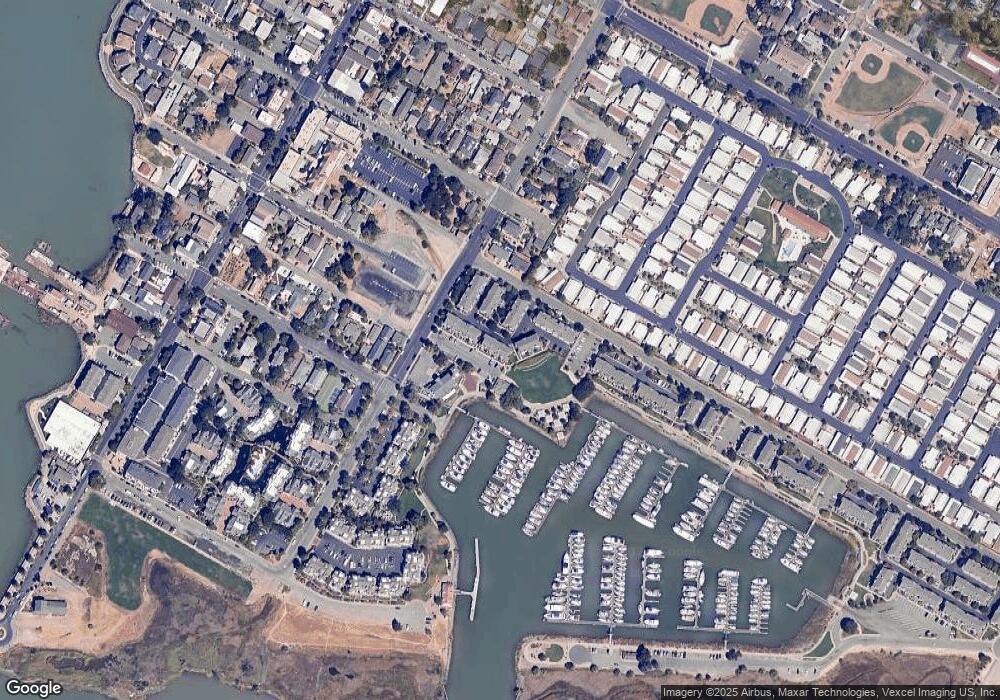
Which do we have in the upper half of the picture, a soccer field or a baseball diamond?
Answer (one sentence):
Looking in the upper half of the picture, you will find a baseball diamond.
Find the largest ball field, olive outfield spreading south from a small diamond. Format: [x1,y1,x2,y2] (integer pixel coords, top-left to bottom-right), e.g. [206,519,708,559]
[824,40,926,118]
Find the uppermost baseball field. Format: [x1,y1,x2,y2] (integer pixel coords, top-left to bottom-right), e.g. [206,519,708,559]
[636,0,749,50]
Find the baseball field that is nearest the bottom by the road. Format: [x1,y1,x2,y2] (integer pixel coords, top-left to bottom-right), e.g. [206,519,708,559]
[876,101,949,169]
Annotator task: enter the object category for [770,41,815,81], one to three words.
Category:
house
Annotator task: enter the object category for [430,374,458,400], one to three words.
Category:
building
